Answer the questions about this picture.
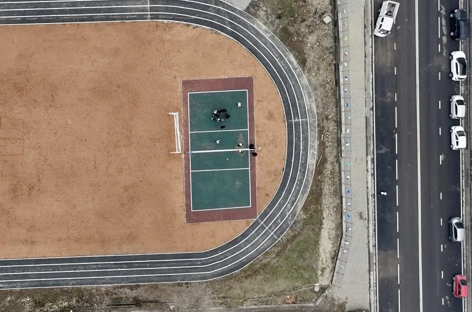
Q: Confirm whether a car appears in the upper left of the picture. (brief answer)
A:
No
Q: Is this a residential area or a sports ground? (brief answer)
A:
sports ground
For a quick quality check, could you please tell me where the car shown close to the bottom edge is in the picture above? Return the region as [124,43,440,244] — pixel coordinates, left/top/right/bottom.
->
[454,276,470,299]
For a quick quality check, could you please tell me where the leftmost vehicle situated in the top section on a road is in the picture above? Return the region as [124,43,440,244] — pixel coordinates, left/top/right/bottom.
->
[377,0,401,37]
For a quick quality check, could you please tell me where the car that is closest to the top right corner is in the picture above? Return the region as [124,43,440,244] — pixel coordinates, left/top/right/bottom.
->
[451,8,470,39]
